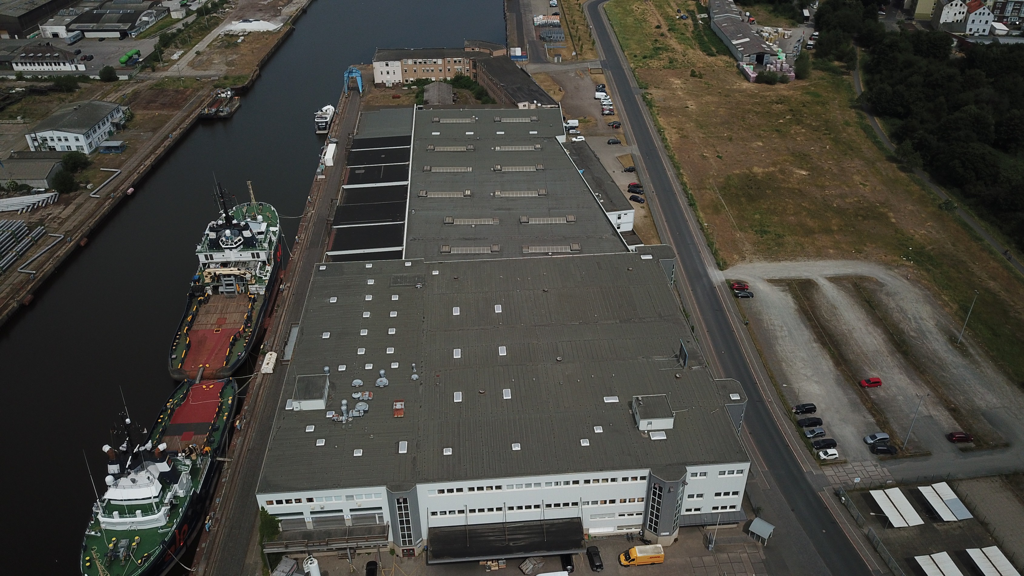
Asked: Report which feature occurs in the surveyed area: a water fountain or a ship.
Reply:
ship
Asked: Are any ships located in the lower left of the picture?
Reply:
Yes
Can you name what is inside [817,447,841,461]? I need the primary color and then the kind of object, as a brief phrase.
white car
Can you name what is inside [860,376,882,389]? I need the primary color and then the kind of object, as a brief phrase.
red vehicle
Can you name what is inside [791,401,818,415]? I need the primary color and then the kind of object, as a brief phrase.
black car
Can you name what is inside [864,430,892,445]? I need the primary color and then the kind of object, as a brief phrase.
gray car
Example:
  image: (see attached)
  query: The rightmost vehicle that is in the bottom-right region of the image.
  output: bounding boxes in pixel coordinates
[946,429,976,444]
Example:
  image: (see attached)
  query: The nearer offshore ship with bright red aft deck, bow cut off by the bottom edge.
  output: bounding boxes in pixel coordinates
[78,378,240,576]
